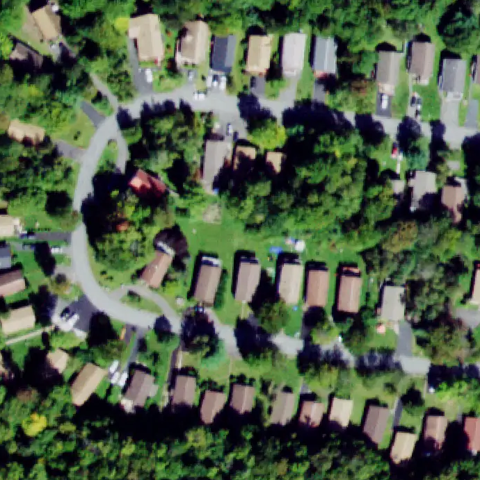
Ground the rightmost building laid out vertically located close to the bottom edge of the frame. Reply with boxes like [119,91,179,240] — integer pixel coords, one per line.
[464,417,480,456]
